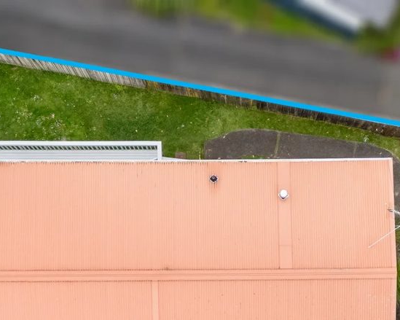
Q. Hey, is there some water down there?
No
